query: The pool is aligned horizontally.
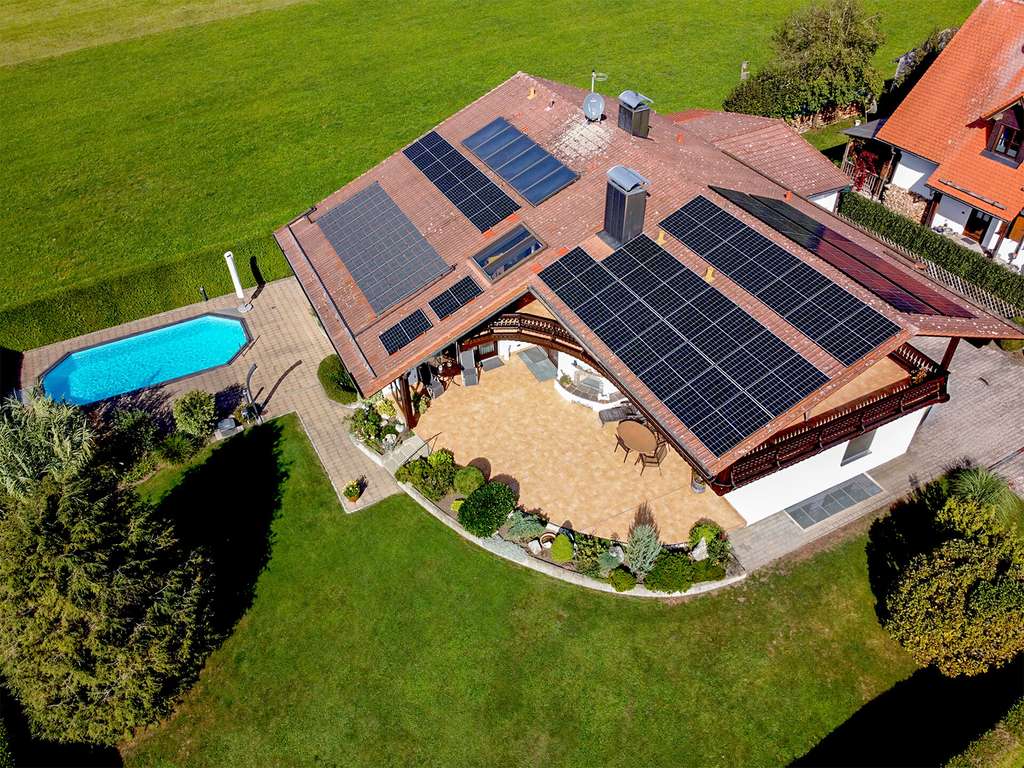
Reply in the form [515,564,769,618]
[42,311,256,405]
